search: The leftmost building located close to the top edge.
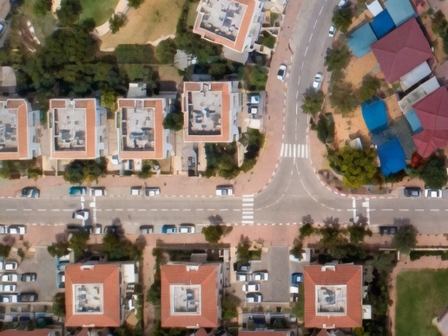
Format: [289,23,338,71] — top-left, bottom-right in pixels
[193,0,275,49]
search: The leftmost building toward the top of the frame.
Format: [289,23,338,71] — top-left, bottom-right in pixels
[0,98,50,158]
